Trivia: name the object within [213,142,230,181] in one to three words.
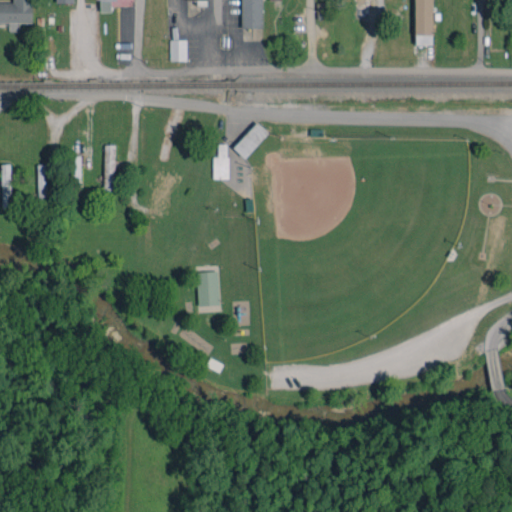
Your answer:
building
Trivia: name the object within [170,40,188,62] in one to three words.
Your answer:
building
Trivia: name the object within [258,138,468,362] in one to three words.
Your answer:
baseball field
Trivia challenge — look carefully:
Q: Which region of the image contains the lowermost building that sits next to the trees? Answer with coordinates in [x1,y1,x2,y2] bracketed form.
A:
[196,265,222,313]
